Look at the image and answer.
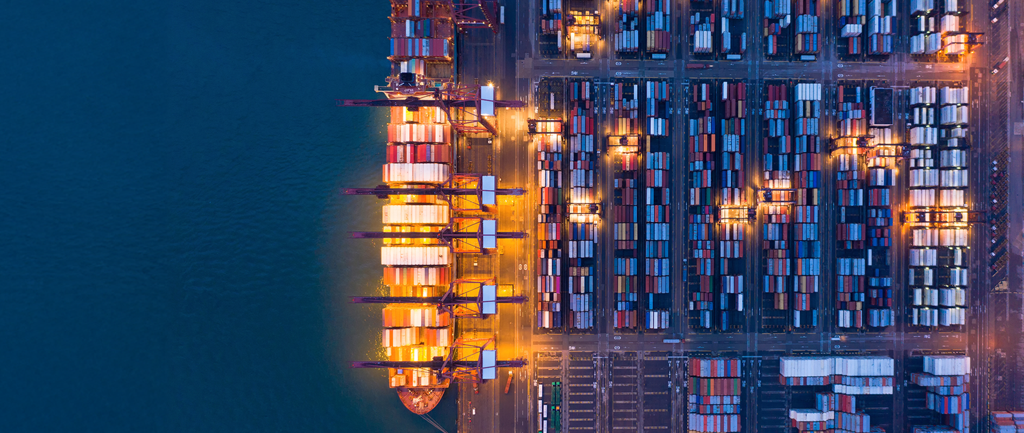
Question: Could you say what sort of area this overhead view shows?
port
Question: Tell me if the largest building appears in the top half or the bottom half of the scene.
top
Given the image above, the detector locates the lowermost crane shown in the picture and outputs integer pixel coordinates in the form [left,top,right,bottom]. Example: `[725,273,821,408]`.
[349,320,530,384]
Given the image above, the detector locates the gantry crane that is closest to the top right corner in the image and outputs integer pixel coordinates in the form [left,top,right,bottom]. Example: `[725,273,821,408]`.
[937,34,985,58]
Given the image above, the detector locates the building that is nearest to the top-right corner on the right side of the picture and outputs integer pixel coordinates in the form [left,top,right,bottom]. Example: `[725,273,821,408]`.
[868,87,893,125]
